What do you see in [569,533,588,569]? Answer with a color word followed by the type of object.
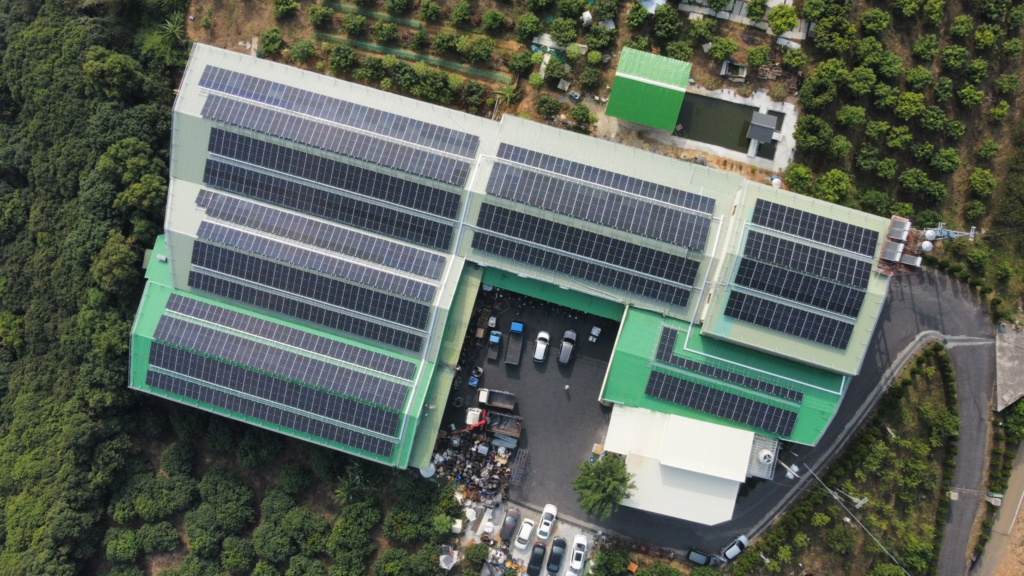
white car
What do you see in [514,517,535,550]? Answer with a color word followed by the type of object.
white car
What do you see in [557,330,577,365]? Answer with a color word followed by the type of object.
gray car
